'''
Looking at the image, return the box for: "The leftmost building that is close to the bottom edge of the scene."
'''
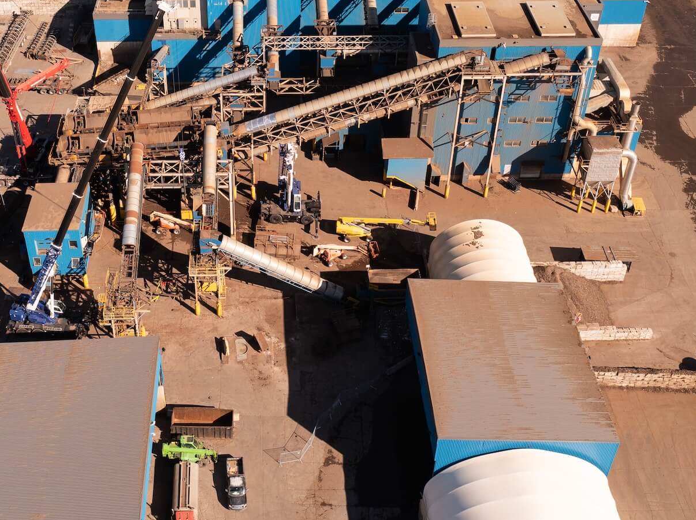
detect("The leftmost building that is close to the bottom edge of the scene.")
[0,342,171,520]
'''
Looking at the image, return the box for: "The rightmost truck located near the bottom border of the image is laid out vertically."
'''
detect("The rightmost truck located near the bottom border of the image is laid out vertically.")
[223,449,248,508]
